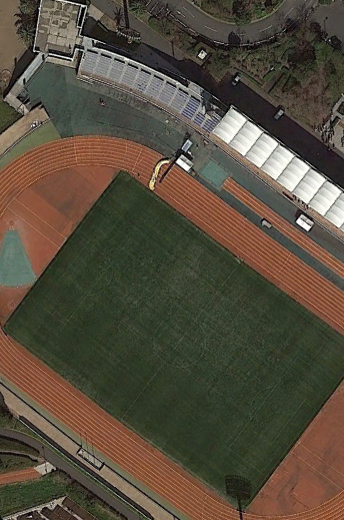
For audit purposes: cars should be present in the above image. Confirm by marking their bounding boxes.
[231,74,242,86]
[275,109,285,120]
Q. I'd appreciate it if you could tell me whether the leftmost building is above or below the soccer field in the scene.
above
